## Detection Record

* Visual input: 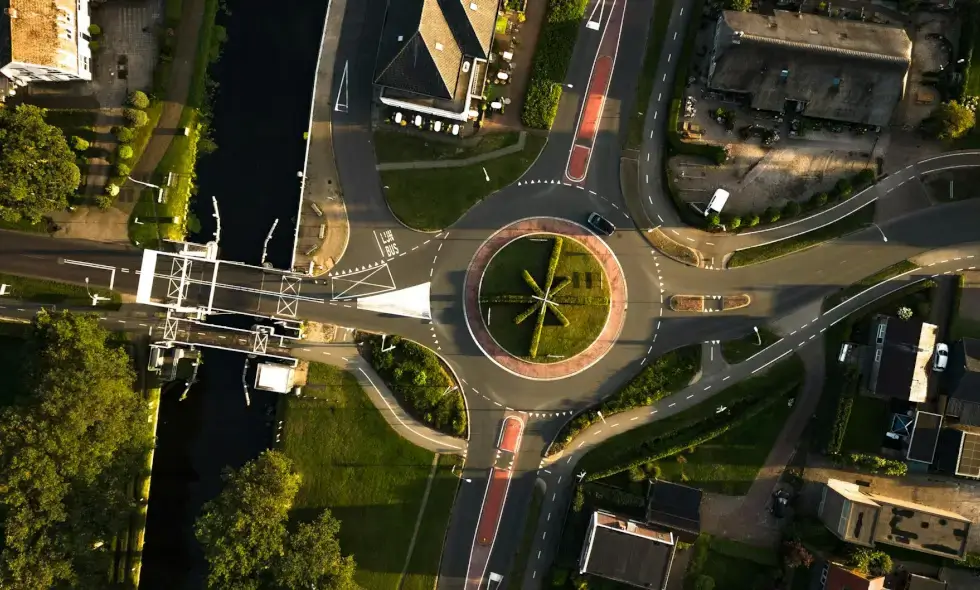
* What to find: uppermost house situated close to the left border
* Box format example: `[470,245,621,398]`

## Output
[0,0,93,83]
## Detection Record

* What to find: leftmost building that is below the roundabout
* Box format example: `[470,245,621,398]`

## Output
[575,511,672,590]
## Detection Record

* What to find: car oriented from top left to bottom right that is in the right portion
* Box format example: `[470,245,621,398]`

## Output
[587,211,616,235]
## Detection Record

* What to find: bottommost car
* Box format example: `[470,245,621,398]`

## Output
[776,491,791,519]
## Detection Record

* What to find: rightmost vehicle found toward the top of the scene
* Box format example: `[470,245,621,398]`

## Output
[706,186,731,216]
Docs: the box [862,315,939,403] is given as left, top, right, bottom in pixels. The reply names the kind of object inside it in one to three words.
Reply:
house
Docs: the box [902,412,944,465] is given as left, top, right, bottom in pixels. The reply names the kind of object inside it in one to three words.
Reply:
building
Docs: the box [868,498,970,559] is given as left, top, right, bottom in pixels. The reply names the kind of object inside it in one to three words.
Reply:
building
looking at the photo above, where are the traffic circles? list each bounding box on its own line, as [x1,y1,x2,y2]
[463,217,627,380]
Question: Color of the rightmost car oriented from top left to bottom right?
black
